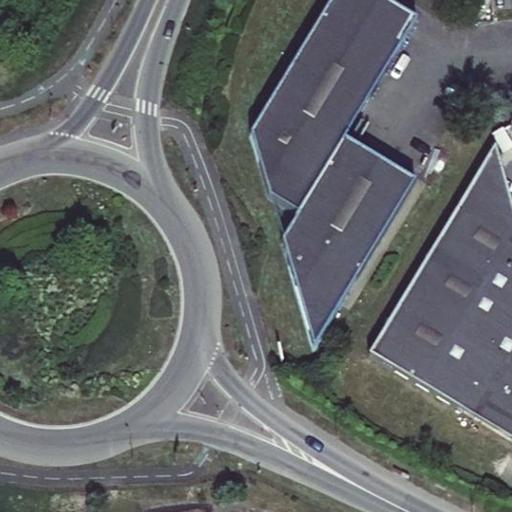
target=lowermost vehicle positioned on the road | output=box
[305,435,325,452]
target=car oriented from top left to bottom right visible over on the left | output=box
[122,171,142,187]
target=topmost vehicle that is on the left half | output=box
[163,20,176,40]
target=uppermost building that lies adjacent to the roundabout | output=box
[254,0,416,216]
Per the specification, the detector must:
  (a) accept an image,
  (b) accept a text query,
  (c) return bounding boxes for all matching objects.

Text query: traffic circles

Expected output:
[0,134,222,468]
